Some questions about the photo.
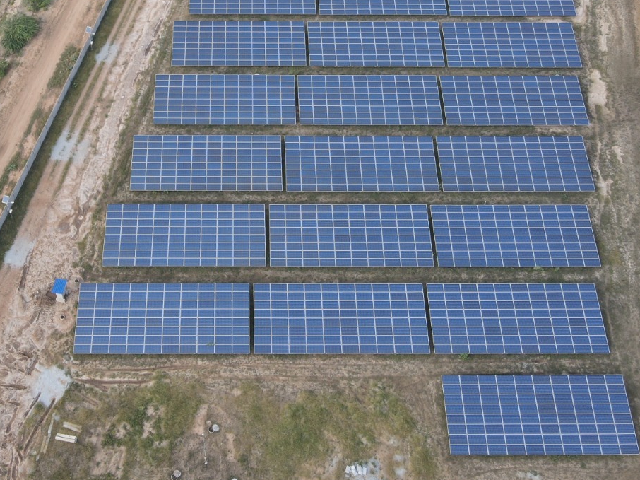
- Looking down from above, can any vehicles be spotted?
No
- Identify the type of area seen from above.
solar farm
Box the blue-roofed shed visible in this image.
[51,277,68,306]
